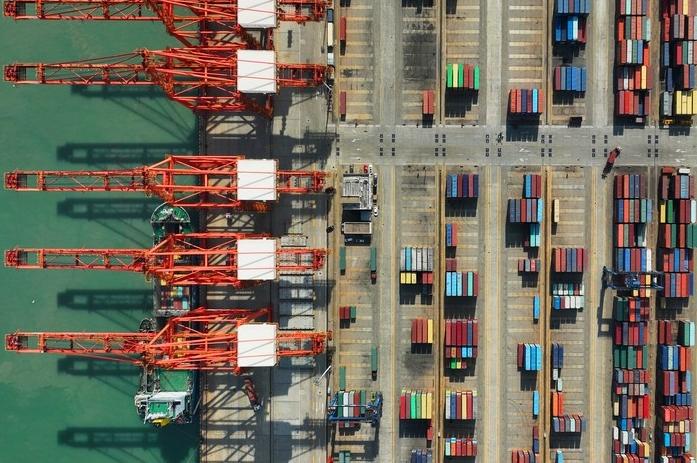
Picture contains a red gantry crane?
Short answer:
Yes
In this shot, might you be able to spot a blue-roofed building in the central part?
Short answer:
No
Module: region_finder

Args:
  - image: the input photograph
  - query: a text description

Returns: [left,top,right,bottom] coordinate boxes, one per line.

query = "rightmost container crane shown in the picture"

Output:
[604,268,666,290]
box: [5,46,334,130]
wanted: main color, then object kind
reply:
red container crane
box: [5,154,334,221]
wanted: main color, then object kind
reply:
red container crane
